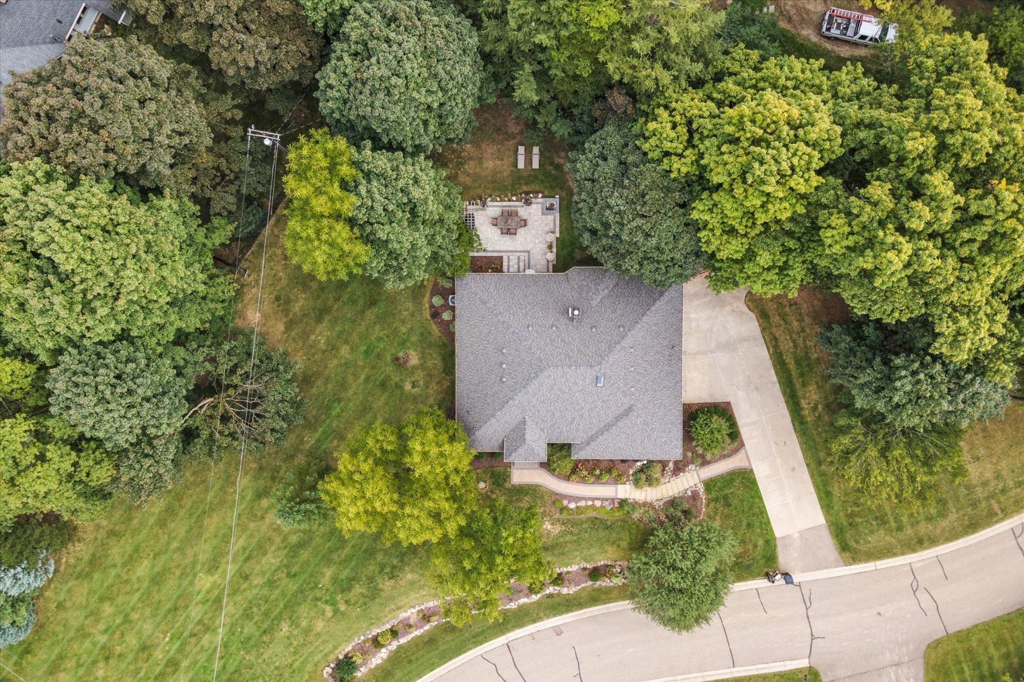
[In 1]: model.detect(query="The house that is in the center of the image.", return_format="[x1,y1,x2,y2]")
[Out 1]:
[455,266,683,462]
